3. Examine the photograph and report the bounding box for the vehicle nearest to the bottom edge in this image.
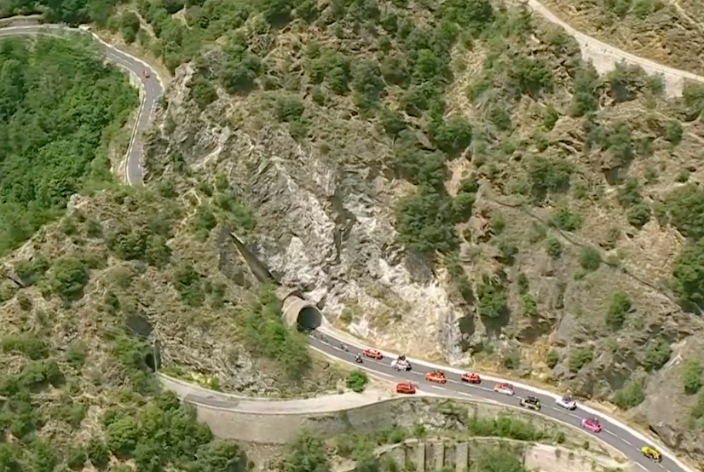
[641,445,662,460]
